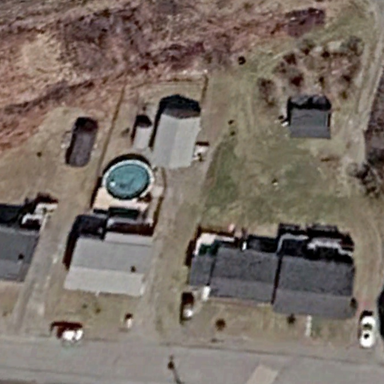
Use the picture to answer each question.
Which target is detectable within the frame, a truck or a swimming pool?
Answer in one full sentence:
It is a swimming pool that can be seen here.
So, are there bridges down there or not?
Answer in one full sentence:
No, this view has no bridge in it.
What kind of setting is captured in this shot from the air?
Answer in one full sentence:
It's a residential area.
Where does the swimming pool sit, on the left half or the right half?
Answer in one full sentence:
The swimming pool is on the left side of the image.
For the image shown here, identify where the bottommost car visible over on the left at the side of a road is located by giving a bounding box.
[58,325,86,342]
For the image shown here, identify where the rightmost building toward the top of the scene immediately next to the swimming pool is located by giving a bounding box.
[153,115,201,168]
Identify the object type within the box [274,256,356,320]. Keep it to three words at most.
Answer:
house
